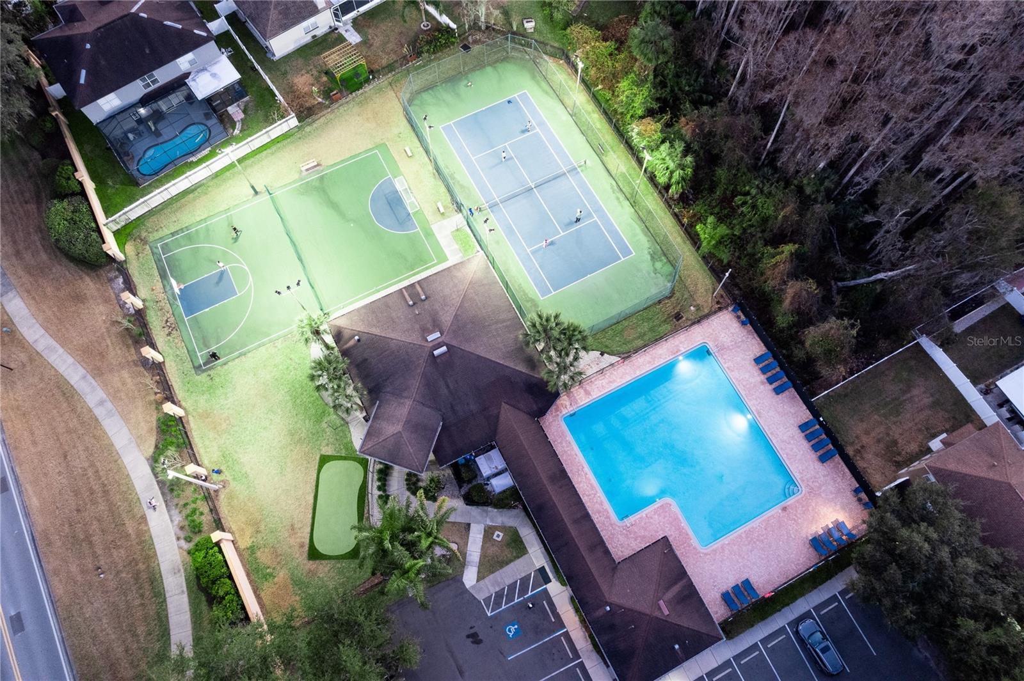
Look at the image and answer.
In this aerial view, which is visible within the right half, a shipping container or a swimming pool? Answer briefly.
swimming pool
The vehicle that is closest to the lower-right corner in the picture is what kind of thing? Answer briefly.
automobile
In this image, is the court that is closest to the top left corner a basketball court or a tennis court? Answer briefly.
basketball court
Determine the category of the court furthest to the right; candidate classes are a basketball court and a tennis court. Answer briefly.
tennis court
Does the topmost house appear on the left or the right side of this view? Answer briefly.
left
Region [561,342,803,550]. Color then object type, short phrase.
blue swimming pool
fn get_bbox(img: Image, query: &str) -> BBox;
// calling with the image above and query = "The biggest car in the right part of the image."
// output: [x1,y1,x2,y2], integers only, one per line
[798,615,849,676]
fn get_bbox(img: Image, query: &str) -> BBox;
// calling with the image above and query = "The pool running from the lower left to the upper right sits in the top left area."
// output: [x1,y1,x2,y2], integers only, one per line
[135,121,211,175]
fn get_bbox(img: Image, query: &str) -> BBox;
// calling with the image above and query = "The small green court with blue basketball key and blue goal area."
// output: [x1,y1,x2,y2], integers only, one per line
[148,143,448,375]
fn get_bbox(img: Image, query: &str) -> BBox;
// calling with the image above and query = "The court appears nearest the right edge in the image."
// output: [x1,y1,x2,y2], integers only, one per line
[407,56,674,337]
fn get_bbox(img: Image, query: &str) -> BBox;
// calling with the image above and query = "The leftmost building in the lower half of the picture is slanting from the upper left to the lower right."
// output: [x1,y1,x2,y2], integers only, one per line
[328,253,726,681]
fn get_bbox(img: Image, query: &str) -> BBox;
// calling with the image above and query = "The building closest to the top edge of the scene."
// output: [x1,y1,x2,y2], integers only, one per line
[234,0,383,61]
